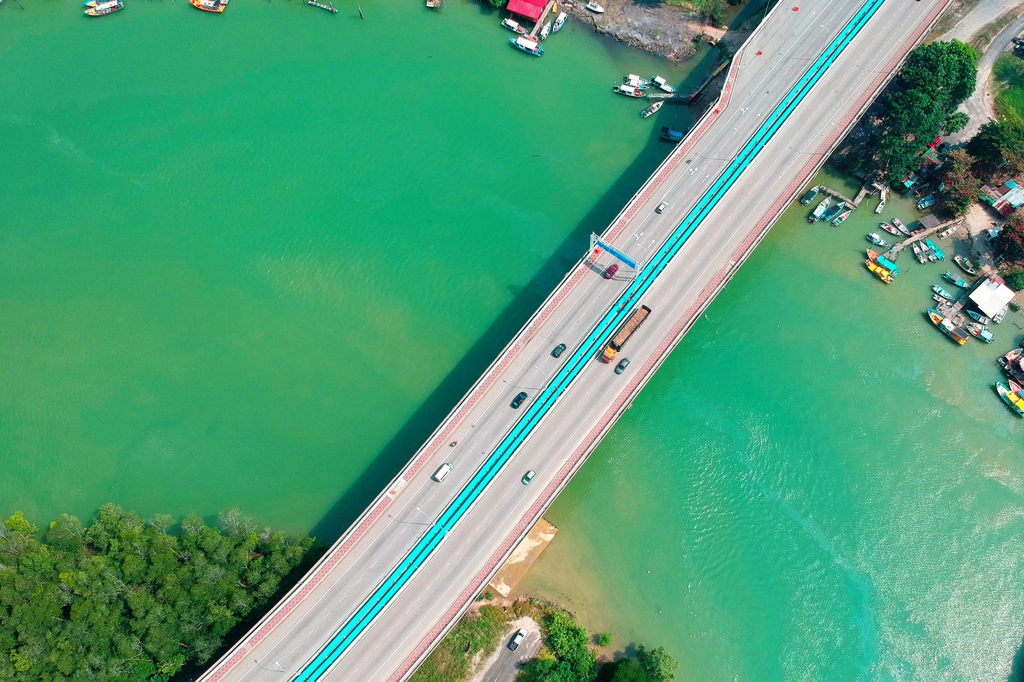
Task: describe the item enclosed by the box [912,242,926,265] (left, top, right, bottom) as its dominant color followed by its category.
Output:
white boat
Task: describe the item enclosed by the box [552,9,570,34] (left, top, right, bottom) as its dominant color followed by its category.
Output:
white boat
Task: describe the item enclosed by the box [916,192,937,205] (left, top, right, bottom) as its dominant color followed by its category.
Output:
blue boat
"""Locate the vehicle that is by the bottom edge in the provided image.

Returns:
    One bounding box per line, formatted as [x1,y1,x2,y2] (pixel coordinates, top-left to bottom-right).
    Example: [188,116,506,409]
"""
[508,629,526,652]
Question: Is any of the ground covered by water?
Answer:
Yes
